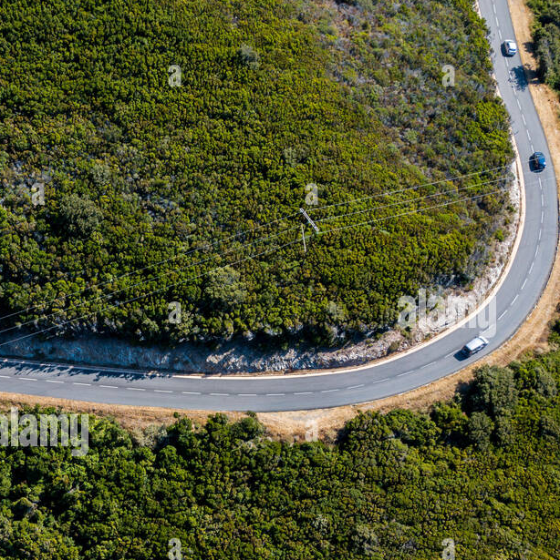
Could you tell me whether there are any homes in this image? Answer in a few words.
No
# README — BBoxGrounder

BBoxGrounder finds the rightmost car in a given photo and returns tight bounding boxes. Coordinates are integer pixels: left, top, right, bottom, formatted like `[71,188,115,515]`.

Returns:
[532,153,546,170]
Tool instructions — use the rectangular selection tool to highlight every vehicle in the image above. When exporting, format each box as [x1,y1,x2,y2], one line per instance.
[462,337,487,355]
[532,153,546,170]
[503,39,517,57]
